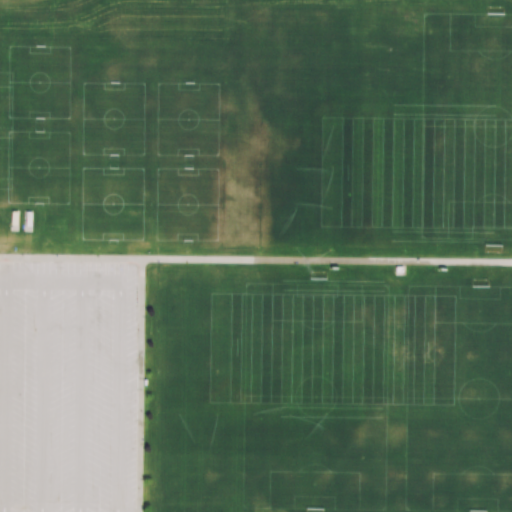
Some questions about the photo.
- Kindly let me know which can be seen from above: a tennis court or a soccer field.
soccer field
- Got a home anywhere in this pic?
No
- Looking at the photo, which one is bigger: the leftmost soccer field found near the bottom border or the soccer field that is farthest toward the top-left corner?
the leftmost soccer field found near the bottom border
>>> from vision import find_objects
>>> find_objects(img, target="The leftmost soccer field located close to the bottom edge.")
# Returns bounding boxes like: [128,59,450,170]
[243,406,390,510]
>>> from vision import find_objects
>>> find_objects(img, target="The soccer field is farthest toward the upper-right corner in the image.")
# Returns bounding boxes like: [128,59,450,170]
[421,13,512,116]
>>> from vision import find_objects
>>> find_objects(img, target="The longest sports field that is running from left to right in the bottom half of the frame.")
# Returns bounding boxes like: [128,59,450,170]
[209,293,458,406]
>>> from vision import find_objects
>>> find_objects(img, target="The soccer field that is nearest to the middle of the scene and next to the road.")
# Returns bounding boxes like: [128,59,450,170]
[157,168,222,243]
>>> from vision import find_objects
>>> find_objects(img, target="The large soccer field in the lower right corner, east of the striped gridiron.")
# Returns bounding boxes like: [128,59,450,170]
[405,285,512,512]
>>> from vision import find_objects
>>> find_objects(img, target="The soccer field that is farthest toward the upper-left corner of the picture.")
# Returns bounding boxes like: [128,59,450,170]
[8,45,73,120]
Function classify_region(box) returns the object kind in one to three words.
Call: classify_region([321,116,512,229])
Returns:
sports field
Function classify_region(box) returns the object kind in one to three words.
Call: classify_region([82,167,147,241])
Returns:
soccer field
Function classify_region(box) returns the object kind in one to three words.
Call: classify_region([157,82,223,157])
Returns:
soccer field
